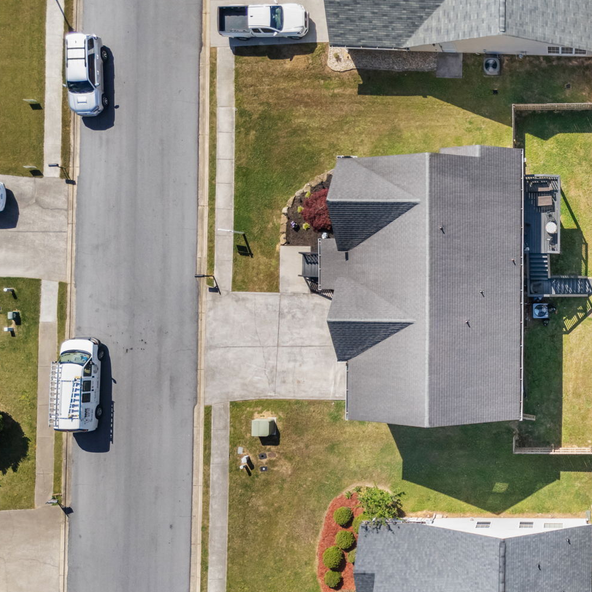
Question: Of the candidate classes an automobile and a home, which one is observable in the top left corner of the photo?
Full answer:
The feature located in the top left corner of the photo is an automobile.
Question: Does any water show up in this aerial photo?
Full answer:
No, there is no water in the image.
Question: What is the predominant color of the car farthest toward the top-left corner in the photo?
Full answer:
From above, the car farthest toward the top-left corner appears white.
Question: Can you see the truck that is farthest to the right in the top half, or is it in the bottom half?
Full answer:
You can find the truck that is farthest to the right in the top half.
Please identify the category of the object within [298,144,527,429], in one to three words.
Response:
house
